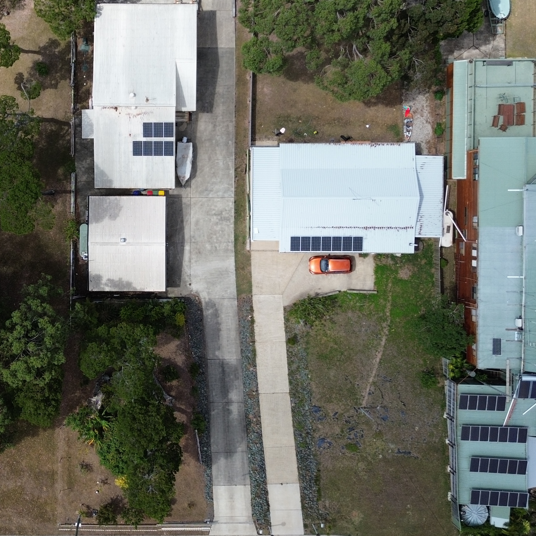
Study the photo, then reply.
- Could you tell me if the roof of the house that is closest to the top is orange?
No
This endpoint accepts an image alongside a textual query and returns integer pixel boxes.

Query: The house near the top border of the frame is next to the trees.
[81,2,197,190]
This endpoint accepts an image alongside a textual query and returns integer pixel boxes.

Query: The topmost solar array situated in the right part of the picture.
[290,236,363,252]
